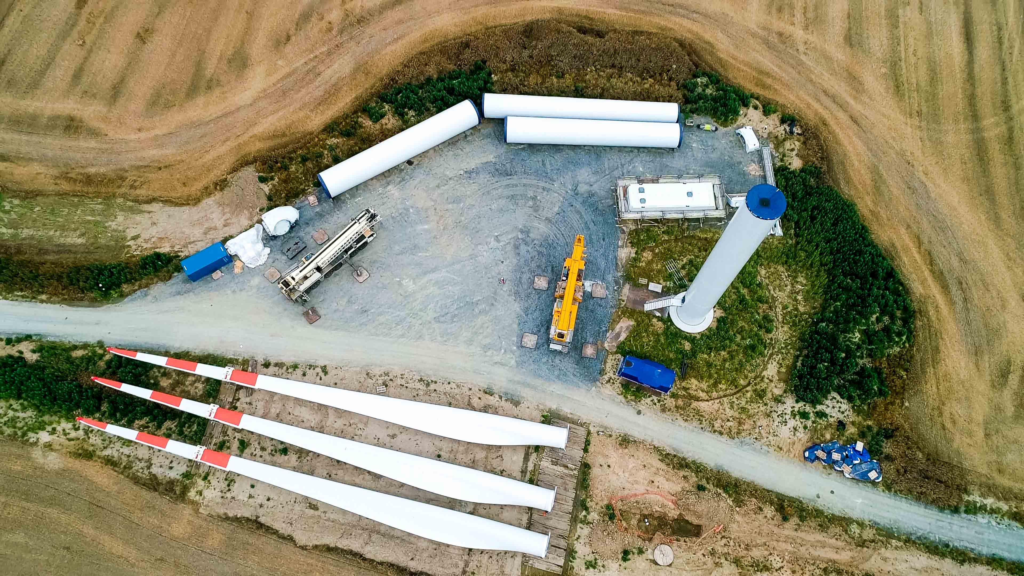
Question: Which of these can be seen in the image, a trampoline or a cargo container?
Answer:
cargo container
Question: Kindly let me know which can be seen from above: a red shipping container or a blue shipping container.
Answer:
blue shipping container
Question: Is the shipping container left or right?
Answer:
left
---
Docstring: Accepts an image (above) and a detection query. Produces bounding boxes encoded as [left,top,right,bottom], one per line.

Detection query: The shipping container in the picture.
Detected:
[181,242,233,283]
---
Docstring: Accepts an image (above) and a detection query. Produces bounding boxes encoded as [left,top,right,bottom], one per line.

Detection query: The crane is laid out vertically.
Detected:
[549,233,587,355]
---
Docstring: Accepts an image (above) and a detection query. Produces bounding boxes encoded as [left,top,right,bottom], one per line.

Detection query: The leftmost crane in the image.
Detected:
[275,210,383,317]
